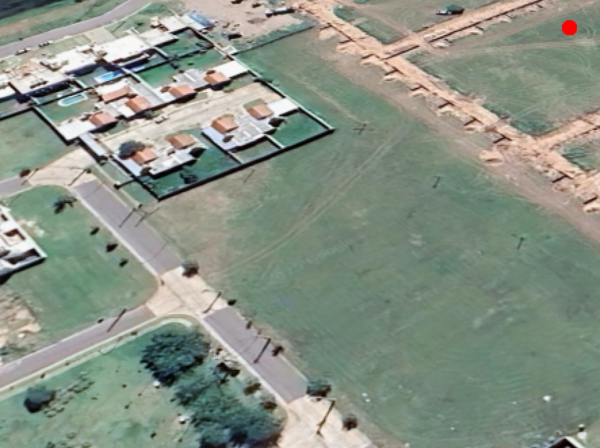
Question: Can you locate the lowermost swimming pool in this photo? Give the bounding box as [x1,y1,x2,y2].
[60,94,88,106]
